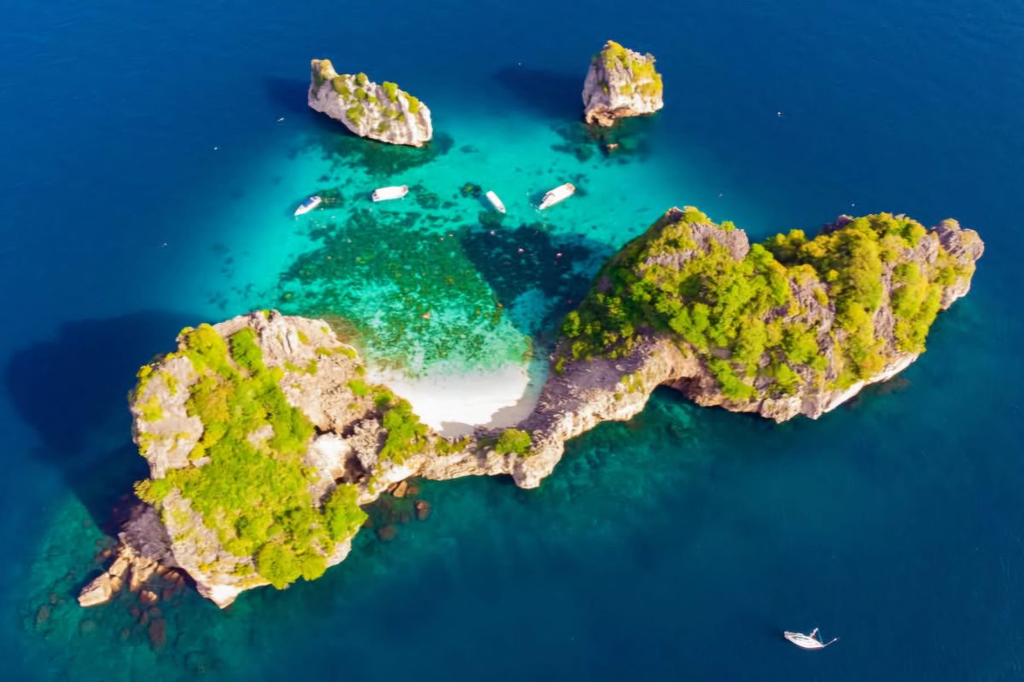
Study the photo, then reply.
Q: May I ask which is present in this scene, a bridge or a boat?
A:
boat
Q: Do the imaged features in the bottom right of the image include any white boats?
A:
Yes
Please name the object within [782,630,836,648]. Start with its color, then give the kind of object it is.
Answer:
white boat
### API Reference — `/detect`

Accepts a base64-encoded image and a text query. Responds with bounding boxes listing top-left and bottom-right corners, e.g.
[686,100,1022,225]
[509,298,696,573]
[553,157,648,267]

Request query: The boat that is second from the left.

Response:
[371,184,408,202]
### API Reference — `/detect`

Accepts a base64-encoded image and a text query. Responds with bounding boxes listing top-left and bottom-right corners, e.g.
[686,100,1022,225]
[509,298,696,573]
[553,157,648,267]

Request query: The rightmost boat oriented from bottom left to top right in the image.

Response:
[534,183,574,212]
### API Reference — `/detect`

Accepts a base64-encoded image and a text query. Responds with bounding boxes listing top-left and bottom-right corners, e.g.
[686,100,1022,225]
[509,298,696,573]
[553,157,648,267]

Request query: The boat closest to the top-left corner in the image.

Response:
[295,196,325,215]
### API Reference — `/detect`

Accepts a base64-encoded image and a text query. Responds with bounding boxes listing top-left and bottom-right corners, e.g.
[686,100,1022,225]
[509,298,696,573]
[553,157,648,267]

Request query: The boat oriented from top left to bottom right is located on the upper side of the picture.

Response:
[485,188,505,213]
